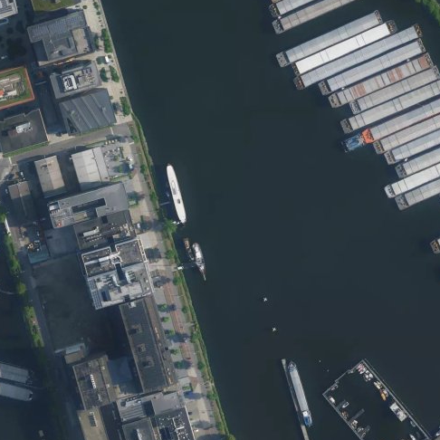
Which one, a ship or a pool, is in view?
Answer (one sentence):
Of the two, only a ship appears.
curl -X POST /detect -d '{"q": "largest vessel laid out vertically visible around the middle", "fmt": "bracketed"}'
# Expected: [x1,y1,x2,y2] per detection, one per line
[167,165,187,223]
